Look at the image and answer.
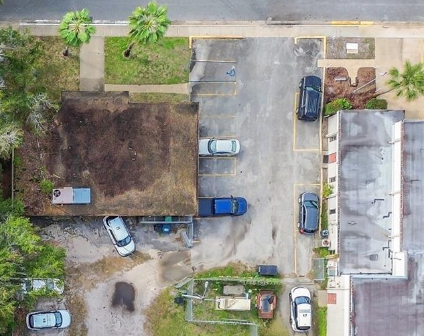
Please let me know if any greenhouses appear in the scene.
No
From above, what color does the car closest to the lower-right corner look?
white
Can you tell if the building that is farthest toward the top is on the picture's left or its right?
left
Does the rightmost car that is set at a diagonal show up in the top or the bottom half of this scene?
bottom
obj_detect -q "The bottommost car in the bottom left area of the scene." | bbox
[25,309,70,331]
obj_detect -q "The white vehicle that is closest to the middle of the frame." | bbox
[199,137,239,158]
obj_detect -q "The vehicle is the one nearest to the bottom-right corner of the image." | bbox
[287,286,312,332]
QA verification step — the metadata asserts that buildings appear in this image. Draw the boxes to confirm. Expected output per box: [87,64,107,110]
[325,109,424,336]
[19,91,199,216]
